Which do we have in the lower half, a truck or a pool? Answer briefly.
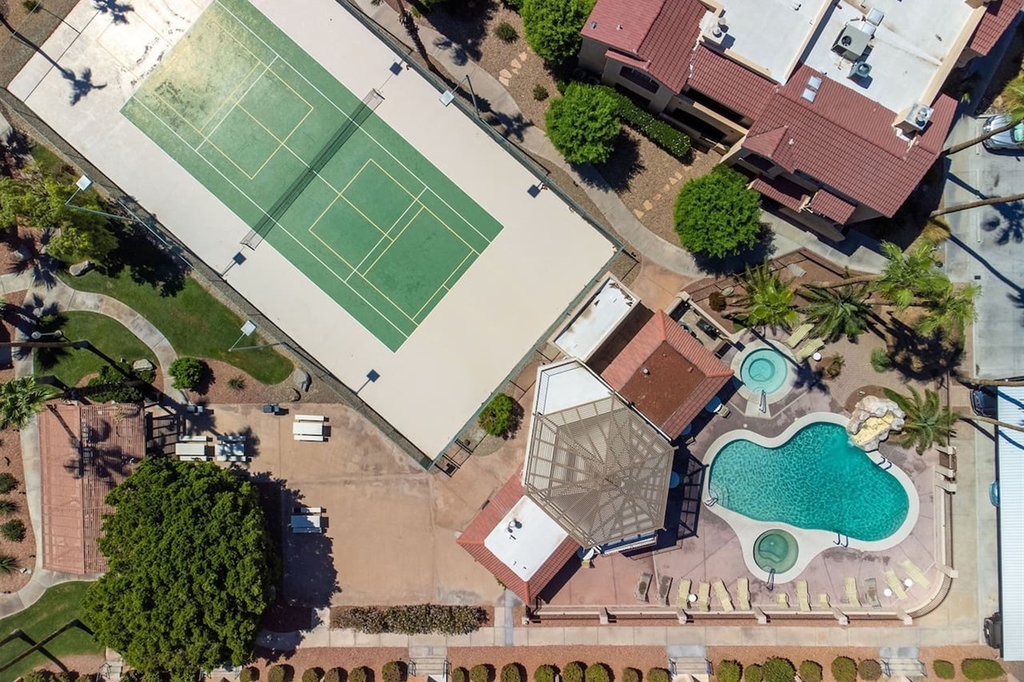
pool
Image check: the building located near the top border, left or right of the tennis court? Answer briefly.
on its right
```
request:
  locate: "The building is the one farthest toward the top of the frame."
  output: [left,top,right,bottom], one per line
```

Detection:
[580,0,1019,259]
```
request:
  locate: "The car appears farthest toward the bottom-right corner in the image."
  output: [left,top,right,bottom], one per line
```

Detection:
[982,612,1001,648]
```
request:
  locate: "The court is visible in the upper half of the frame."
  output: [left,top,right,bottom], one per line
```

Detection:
[9,0,618,460]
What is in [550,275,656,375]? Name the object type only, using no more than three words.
building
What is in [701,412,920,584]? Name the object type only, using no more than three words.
swimming pool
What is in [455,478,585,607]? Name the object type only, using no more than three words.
building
